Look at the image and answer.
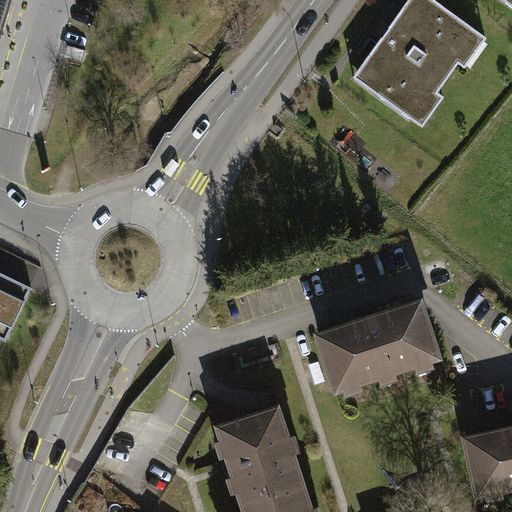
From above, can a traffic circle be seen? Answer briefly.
Yes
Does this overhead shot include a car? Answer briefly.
Yes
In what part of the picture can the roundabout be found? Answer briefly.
left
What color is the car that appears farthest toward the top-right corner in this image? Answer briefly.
black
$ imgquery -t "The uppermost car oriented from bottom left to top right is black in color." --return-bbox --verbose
[296,11,316,34]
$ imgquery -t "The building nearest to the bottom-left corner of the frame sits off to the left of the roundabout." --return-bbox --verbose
[0,274,32,341]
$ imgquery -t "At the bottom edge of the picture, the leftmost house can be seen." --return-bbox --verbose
[213,405,317,512]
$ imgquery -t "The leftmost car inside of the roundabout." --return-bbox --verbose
[92,210,112,230]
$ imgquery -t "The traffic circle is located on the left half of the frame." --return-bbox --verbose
[58,188,198,330]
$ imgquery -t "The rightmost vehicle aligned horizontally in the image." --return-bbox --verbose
[428,269,452,282]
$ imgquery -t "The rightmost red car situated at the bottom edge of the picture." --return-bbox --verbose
[147,476,166,491]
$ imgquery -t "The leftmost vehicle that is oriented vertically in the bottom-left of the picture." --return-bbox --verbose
[23,437,36,462]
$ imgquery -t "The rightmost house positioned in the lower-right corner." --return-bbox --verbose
[460,426,512,500]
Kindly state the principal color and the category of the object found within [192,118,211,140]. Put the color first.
white car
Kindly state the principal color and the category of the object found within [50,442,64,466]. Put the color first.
black car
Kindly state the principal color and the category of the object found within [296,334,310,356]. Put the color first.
white car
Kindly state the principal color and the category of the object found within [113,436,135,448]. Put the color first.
black vehicle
